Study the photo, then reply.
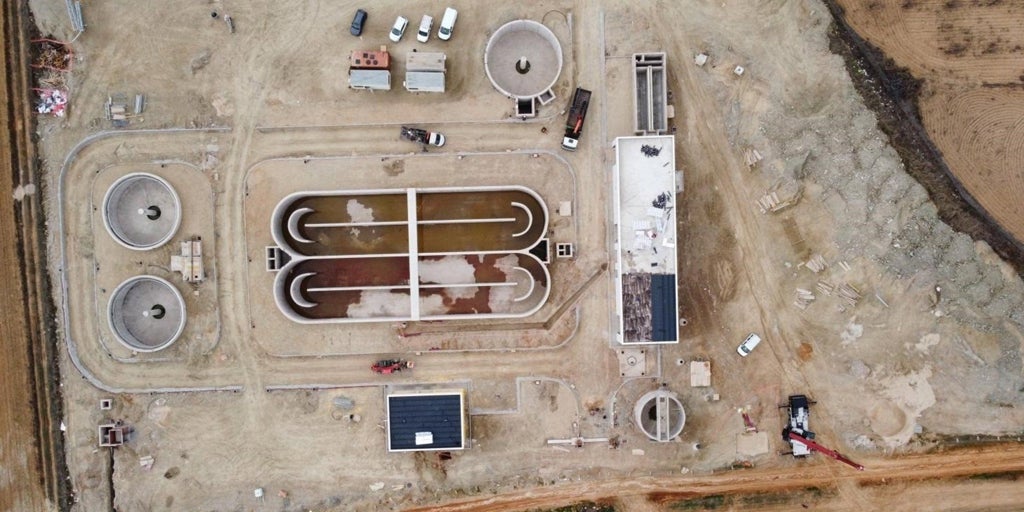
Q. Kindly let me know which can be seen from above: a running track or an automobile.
automobile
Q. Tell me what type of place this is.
industrial area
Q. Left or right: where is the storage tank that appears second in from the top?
left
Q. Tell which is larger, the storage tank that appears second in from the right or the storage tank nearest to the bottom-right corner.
the storage tank that appears second in from the right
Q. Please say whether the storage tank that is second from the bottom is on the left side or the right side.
left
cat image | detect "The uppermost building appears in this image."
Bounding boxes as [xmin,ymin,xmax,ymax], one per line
[611,135,681,344]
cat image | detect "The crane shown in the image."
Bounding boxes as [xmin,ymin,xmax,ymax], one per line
[775,393,865,470]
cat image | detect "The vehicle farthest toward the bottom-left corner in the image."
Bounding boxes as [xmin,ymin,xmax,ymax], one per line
[373,358,411,375]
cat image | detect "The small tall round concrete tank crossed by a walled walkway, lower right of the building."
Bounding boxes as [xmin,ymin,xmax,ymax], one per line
[636,391,685,441]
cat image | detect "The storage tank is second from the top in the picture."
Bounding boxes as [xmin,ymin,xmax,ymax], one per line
[103,172,183,250]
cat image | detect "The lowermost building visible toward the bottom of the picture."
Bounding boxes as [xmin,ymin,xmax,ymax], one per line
[388,388,467,452]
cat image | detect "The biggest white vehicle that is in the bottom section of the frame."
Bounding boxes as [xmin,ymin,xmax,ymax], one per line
[736,331,762,357]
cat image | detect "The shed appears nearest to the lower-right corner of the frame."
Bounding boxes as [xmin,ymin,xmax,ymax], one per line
[688,359,711,387]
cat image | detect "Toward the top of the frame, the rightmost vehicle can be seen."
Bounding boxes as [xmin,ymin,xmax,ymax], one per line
[560,87,592,154]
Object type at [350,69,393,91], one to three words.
trailer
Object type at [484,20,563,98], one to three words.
storage tank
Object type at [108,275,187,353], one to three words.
storage tank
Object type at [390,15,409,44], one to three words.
car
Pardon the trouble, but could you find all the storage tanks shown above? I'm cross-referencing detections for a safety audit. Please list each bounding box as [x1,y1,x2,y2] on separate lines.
[103,172,183,250]
[108,275,187,353]
[636,391,685,441]
[484,20,563,98]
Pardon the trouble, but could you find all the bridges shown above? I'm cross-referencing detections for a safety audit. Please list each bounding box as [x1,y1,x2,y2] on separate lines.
[407,187,419,322]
